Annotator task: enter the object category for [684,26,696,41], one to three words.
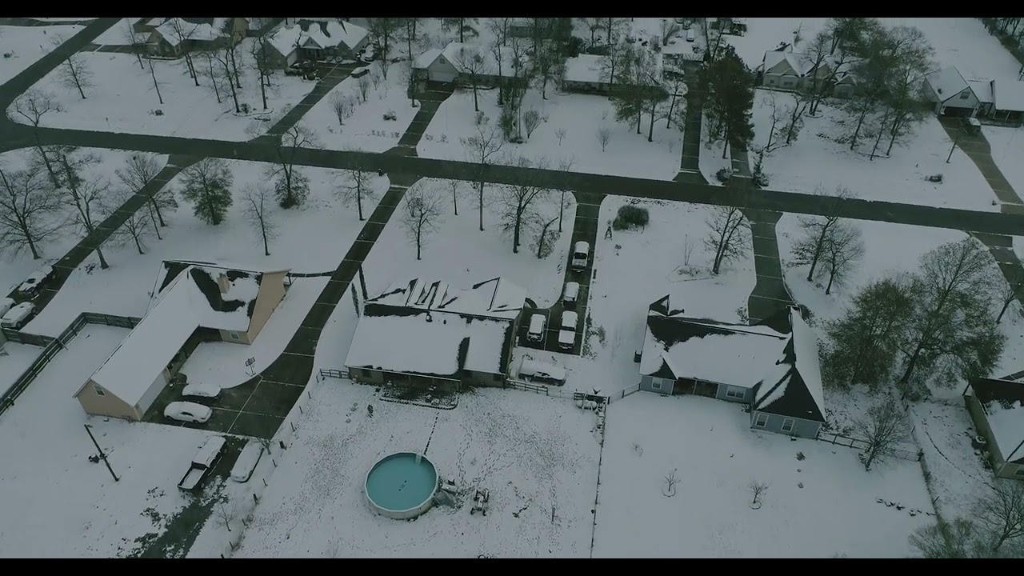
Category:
vehicle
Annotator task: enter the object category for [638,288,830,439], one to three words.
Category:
house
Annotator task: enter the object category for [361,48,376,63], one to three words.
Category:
car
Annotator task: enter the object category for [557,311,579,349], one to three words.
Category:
truck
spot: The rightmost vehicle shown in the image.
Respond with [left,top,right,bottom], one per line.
[963,115,980,134]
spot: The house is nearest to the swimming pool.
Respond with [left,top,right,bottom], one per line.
[340,277,526,396]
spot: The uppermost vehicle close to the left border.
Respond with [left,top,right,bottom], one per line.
[16,264,62,299]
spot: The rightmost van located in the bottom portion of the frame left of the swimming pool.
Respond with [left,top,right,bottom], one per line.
[228,436,269,486]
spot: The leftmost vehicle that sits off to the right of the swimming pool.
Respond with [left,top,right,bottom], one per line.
[467,481,492,515]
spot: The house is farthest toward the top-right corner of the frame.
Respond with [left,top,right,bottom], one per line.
[926,61,1024,126]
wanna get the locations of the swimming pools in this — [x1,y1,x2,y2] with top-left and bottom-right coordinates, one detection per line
[362,454,438,531]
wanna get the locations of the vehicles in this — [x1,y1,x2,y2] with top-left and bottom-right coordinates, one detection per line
[161,402,214,426]
[467,481,492,515]
[570,238,590,269]
[361,48,376,63]
[557,311,579,349]
[0,298,40,329]
[176,380,227,401]
[0,295,22,316]
[16,264,62,299]
[349,66,372,81]
[171,433,231,492]
[517,364,569,387]
[963,115,980,134]
[562,280,580,307]
[684,26,696,41]
[228,436,269,486]
[526,312,548,343]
